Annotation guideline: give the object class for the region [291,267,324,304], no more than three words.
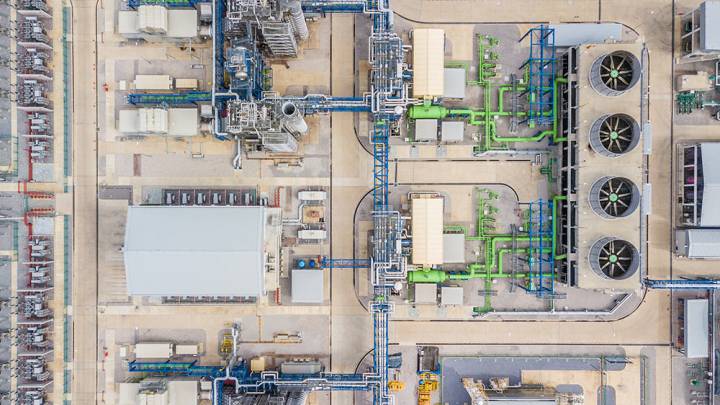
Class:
building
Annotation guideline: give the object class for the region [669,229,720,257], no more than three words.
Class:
shed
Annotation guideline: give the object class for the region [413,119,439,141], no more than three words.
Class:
house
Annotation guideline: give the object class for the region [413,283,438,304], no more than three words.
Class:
house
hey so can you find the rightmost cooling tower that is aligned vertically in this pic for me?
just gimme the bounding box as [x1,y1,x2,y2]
[553,39,645,290]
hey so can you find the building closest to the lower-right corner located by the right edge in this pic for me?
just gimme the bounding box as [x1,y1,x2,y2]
[680,297,708,357]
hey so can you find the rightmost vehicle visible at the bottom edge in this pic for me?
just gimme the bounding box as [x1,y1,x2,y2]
[416,344,441,405]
